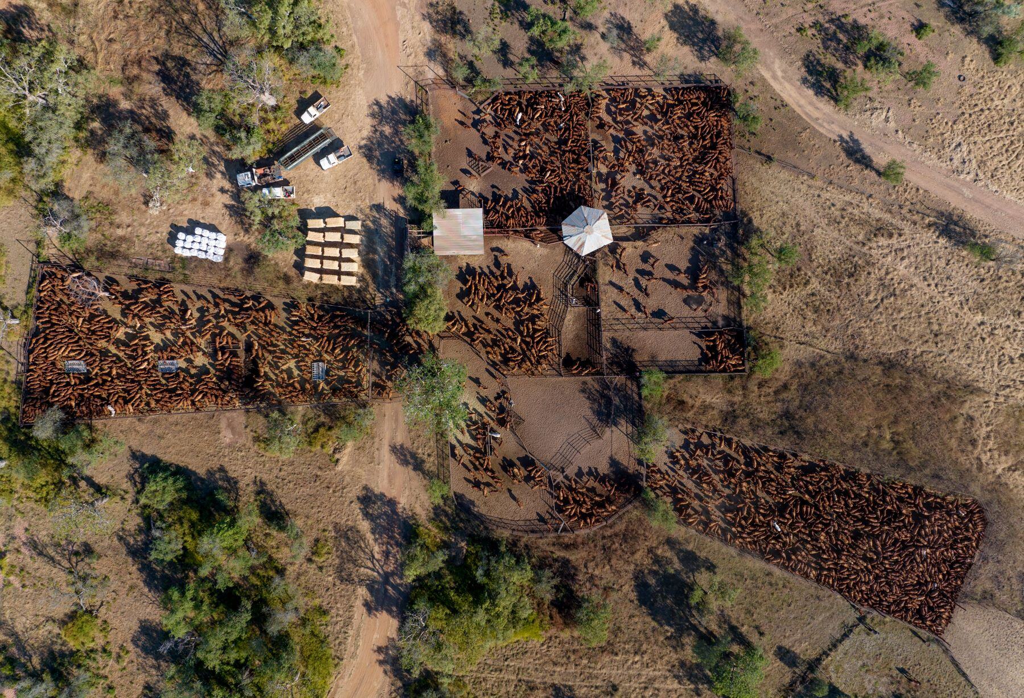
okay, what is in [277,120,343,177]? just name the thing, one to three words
trailer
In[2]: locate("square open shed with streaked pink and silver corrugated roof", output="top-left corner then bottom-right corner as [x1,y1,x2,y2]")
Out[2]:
[434,208,484,257]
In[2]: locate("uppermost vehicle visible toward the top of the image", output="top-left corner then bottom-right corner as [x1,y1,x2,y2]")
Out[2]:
[300,94,332,123]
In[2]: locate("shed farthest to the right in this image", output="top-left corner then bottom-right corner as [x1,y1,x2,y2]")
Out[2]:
[561,205,613,258]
